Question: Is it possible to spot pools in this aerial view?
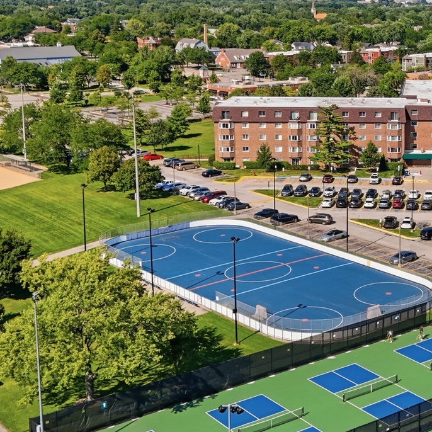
No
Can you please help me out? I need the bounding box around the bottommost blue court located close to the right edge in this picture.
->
[308,364,428,420]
